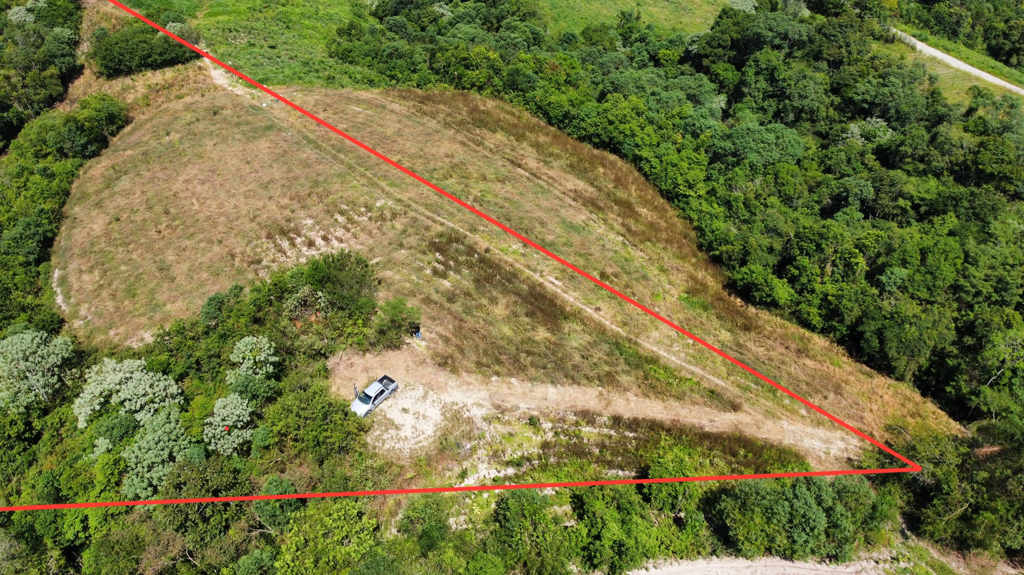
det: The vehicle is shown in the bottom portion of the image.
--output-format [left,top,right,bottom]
[351,374,399,419]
